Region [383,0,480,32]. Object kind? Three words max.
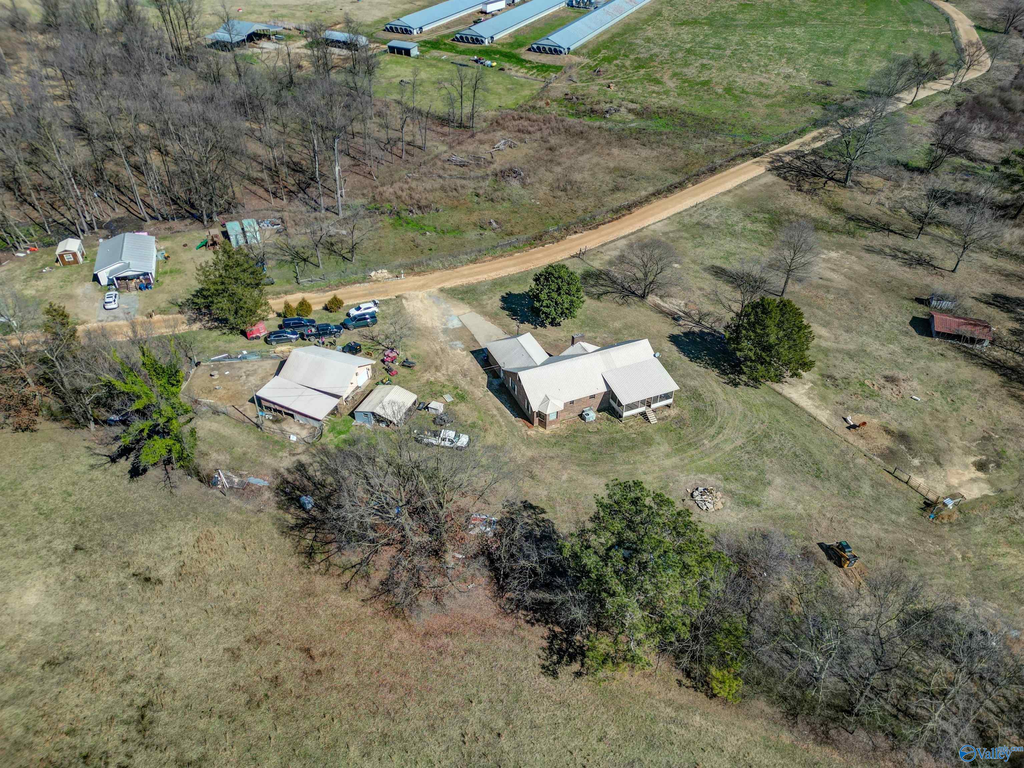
building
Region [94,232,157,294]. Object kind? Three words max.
house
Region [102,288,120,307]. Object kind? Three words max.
car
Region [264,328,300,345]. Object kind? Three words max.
car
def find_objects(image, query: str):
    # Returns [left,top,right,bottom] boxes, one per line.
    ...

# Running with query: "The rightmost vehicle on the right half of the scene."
[828,547,863,573]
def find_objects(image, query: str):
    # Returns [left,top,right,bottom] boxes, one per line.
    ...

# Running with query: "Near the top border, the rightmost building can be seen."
[528,0,647,53]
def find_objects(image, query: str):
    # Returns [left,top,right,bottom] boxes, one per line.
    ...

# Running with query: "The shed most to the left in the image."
[55,239,84,266]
